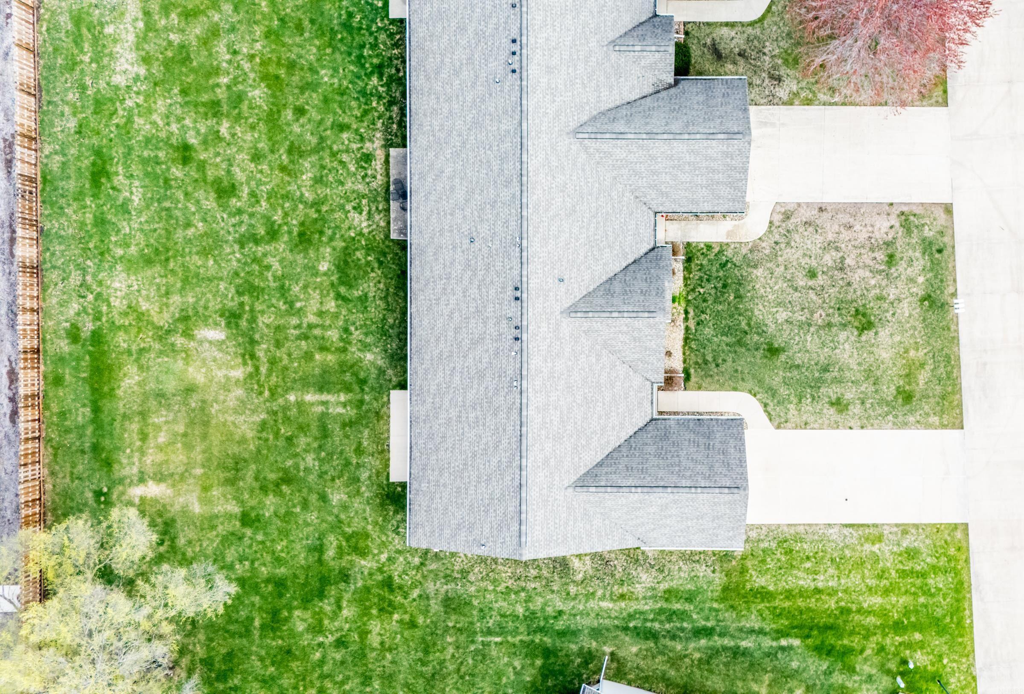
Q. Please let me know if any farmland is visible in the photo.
No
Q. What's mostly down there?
grass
